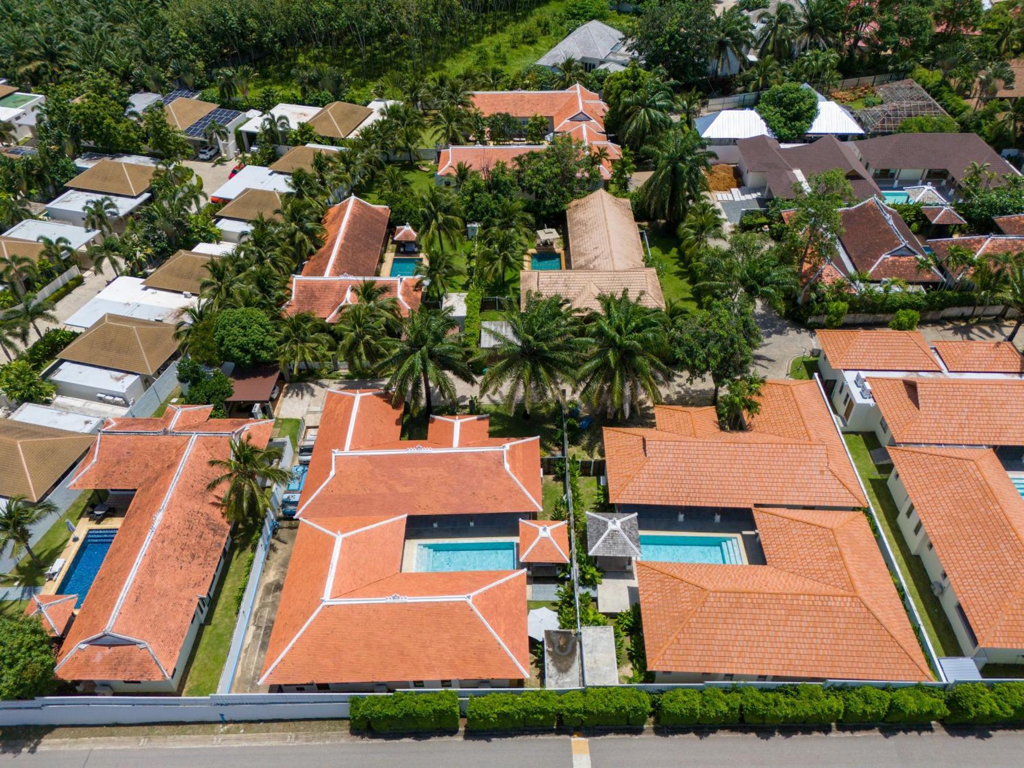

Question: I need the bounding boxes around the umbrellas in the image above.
[527,609,559,640]
[57,523,79,542]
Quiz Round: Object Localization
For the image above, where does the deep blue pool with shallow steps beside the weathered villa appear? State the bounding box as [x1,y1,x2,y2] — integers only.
[52,526,121,614]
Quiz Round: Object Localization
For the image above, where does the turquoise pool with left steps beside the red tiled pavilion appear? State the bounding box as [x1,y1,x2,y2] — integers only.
[409,538,520,572]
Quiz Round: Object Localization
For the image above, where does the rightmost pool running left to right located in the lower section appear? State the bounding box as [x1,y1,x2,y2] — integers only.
[632,530,746,570]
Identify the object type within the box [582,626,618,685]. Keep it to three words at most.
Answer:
shed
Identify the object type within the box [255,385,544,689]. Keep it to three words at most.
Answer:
house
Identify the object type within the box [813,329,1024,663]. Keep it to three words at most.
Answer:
house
